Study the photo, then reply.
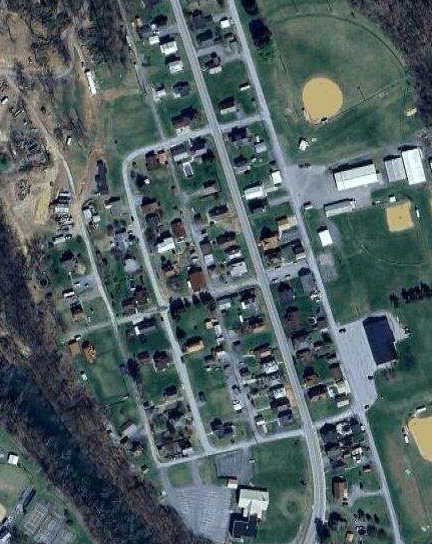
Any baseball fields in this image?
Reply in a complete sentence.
Yes, the frame does contain a baseball field.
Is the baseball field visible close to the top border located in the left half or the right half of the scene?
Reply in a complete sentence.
The baseball field visible close to the top border is on the right side of the image.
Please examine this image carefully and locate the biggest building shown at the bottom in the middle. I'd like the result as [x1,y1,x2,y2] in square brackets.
[234,488,269,536]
